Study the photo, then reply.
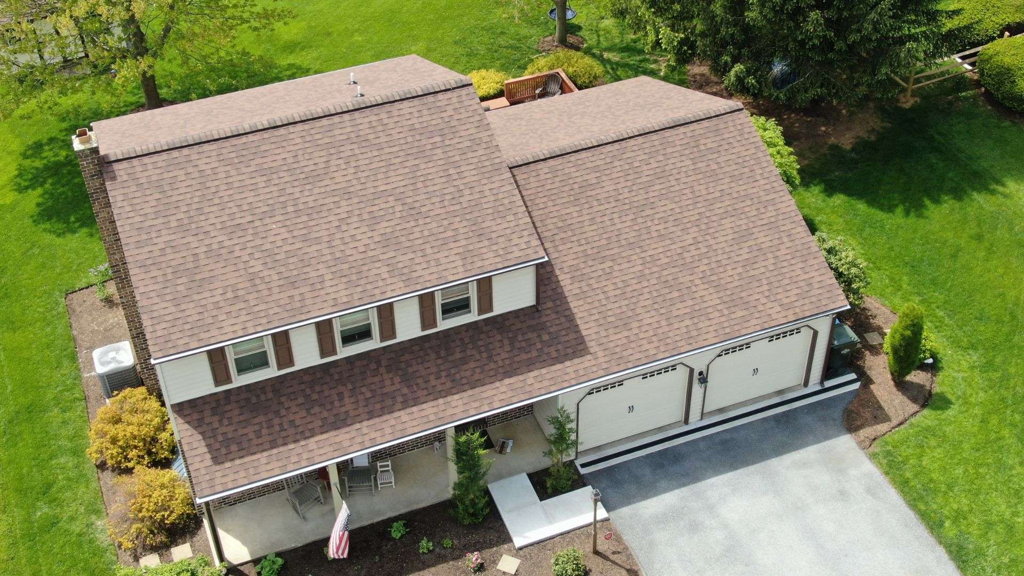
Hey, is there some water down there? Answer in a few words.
No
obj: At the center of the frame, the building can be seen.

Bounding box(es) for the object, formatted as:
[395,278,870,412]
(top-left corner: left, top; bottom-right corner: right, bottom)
[70,54,851,571]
